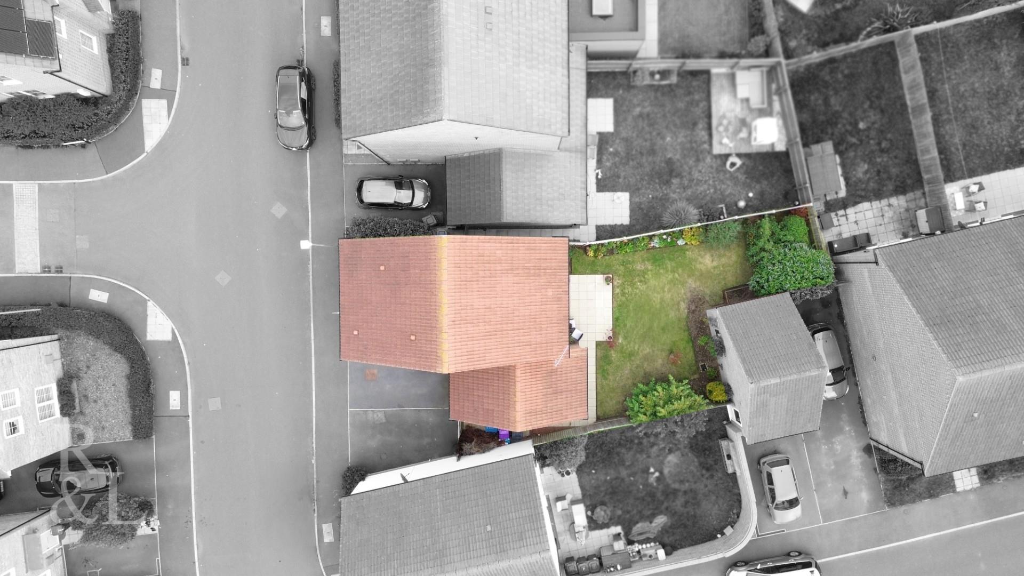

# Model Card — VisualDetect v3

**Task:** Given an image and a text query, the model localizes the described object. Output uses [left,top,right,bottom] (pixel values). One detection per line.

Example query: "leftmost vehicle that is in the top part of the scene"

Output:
[269,63,314,148]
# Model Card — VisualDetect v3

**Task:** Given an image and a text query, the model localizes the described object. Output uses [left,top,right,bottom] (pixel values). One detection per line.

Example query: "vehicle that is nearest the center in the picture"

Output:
[353,171,430,212]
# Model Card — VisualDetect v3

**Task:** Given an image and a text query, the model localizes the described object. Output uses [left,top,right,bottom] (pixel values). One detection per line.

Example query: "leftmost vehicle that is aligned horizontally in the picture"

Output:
[32,457,122,504]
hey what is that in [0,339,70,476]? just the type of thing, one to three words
house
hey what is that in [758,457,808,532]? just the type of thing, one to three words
car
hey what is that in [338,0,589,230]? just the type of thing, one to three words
house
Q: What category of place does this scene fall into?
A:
residential area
